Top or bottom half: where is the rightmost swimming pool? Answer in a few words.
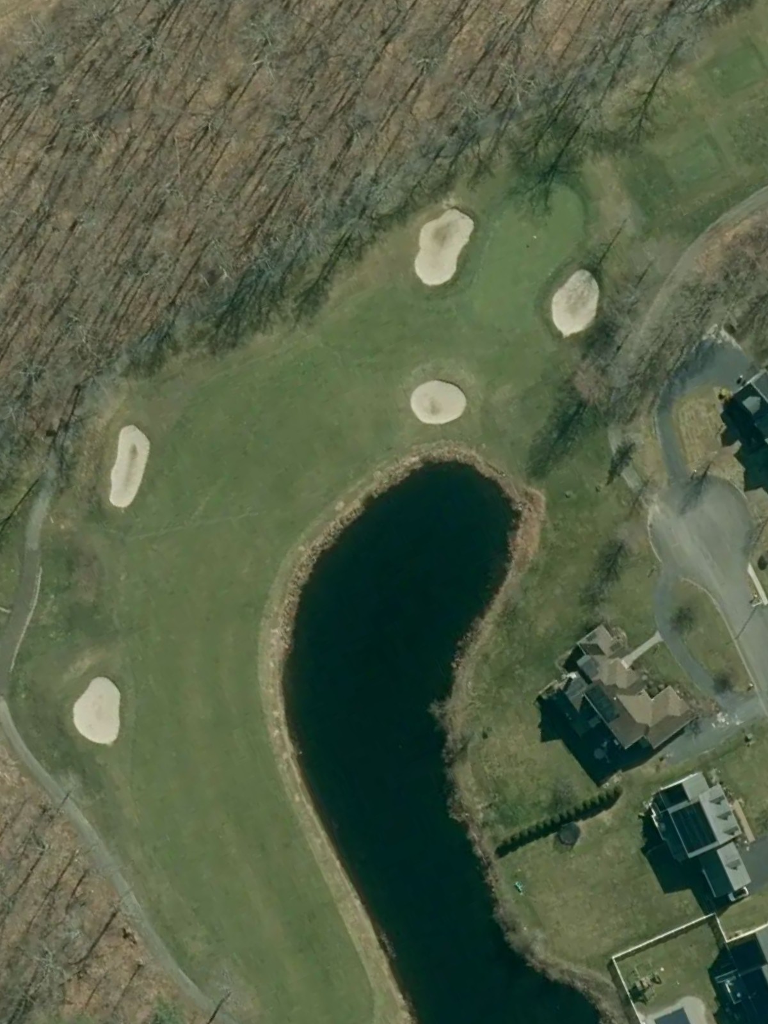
bottom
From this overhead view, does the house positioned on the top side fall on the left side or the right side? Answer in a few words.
right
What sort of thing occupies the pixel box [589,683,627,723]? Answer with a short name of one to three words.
solar panel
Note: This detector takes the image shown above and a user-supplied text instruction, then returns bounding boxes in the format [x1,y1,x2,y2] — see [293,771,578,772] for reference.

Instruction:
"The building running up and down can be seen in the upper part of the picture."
[734,368,768,442]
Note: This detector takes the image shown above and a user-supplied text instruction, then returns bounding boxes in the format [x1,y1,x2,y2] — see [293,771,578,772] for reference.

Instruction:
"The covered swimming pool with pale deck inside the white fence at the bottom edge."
[634,995,707,1024]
